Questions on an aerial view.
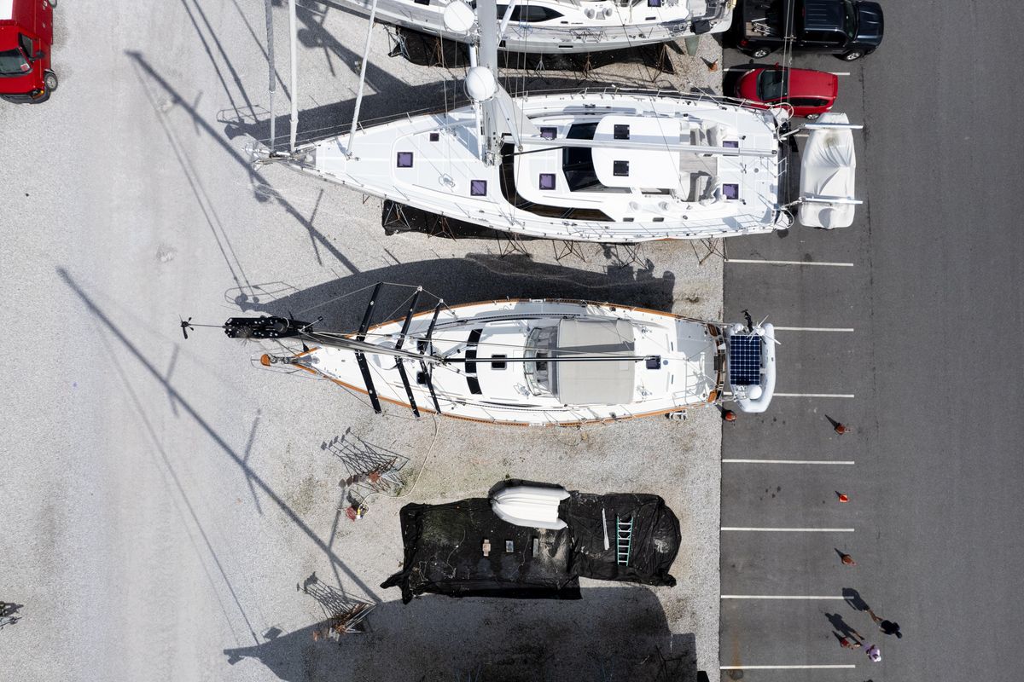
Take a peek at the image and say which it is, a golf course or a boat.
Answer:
boat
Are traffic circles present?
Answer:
No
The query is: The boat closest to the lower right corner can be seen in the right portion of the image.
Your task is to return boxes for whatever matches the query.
[723,309,779,415]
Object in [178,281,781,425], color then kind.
white boat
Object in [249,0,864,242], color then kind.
white boat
